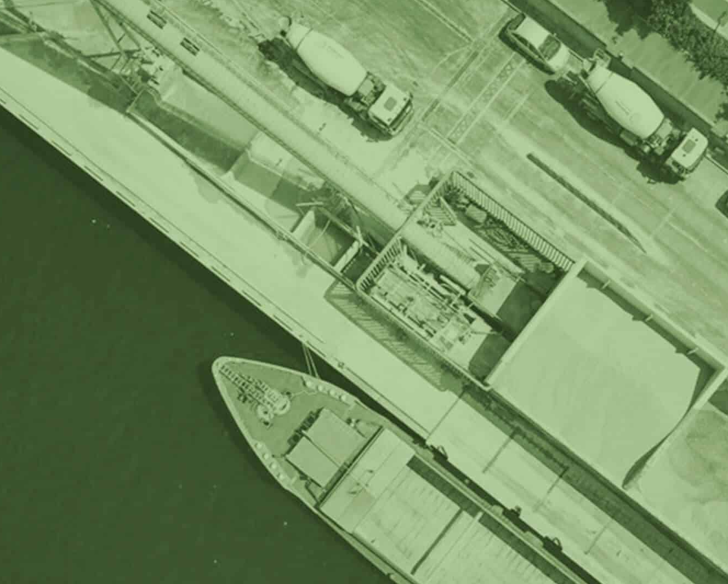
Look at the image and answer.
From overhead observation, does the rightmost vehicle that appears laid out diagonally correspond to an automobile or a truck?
truck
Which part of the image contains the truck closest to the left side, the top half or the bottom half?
top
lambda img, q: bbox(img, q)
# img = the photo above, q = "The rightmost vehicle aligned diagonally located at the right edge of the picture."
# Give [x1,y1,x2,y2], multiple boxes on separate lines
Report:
[572,48,720,185]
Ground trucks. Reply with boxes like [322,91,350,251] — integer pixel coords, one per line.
[572,48,720,185]
[273,10,423,142]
